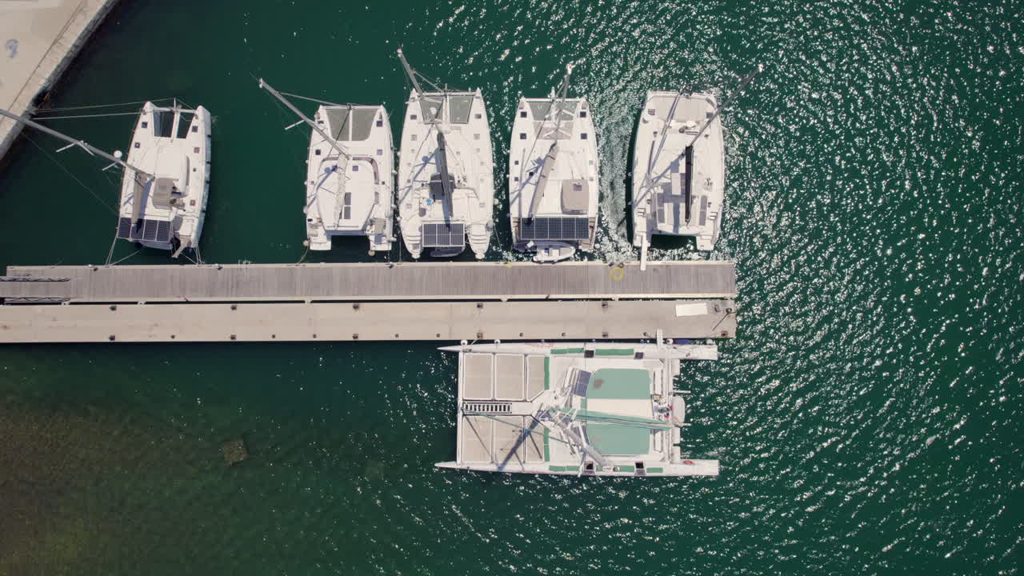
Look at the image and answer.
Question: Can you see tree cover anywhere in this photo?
No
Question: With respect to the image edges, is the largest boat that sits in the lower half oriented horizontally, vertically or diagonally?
horizontally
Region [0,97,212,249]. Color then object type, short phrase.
white boat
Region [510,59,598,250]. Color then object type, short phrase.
white boat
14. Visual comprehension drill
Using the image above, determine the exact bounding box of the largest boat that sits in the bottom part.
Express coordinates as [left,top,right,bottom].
[434,343,717,477]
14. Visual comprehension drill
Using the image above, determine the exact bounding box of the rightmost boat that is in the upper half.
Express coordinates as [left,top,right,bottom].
[630,59,764,257]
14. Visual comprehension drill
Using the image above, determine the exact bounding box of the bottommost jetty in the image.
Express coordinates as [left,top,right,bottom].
[0,297,737,342]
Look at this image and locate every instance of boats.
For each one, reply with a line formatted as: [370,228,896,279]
[138,236,178,253]
[510,59,598,250]
[396,43,494,262]
[630,59,764,257]
[434,343,717,477]
[0,97,212,249]
[431,246,465,259]
[674,396,685,422]
[525,243,576,262]
[257,74,396,250]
